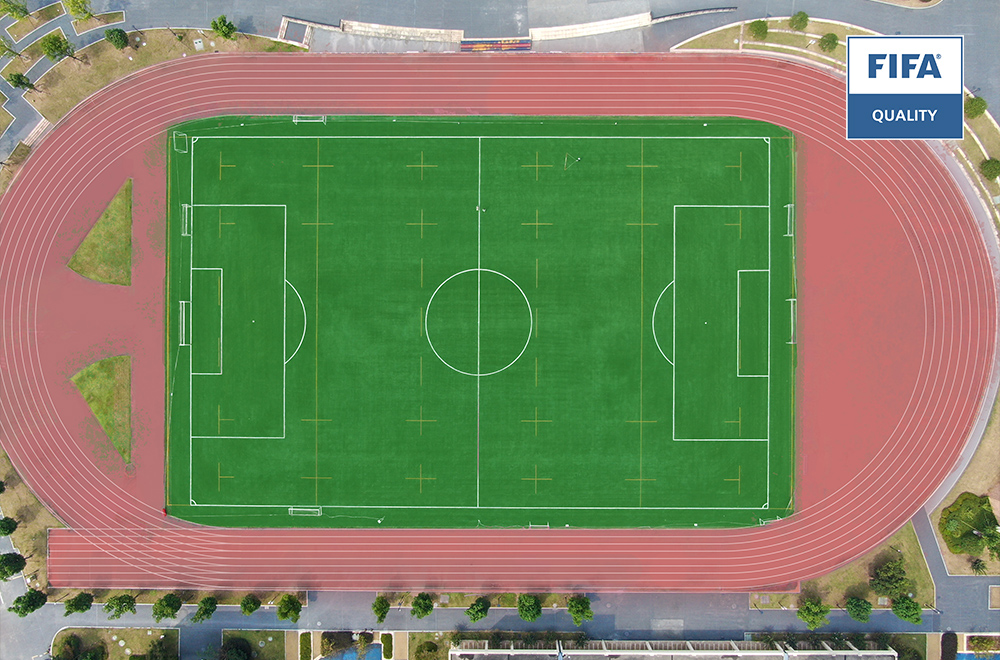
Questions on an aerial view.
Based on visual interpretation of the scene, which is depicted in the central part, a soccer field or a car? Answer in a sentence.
Looking in the central part, you will find a soccer field.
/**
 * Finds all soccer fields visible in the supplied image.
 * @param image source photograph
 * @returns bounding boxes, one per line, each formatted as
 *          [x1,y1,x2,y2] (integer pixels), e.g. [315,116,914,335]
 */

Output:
[165,115,795,528]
